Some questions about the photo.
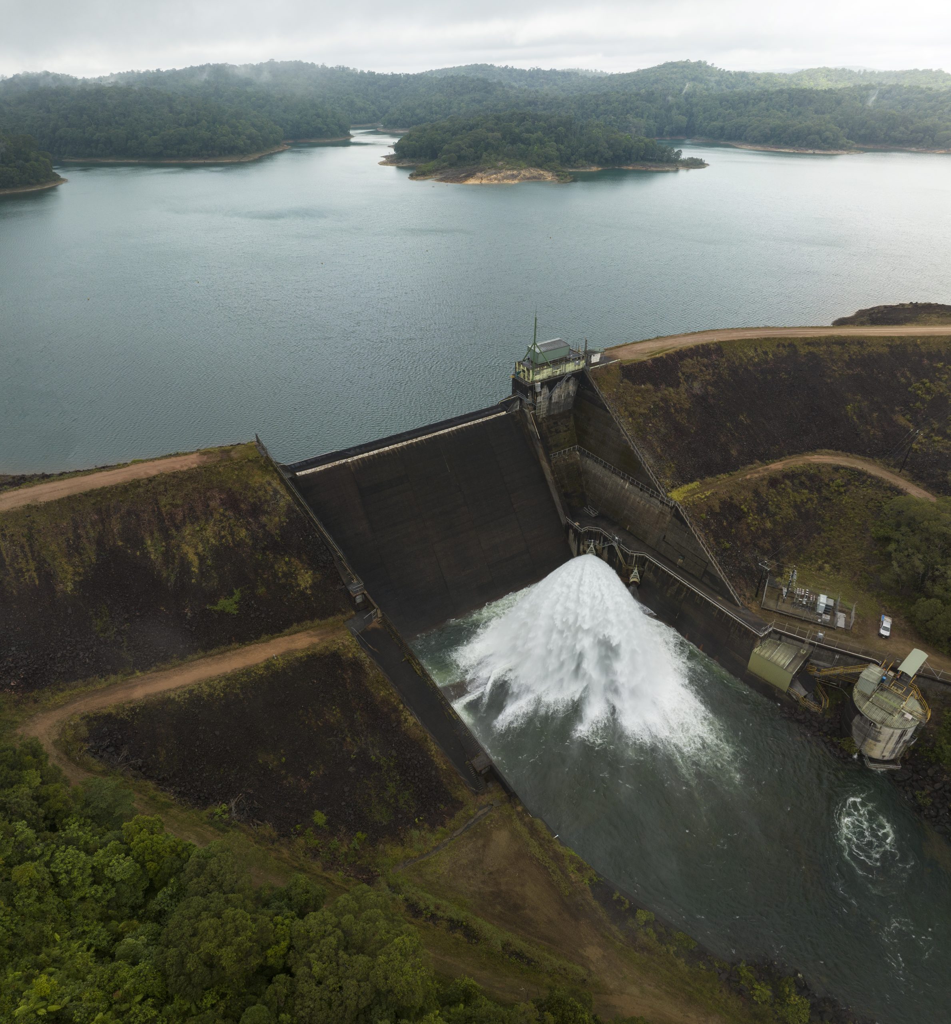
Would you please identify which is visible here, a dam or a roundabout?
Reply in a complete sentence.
There is a dam in the scene.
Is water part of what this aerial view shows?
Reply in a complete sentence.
Yes, some water is visible.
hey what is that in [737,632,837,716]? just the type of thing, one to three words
shed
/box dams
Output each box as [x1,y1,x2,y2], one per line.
[285,387,567,717]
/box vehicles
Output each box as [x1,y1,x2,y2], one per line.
[877,613,894,640]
